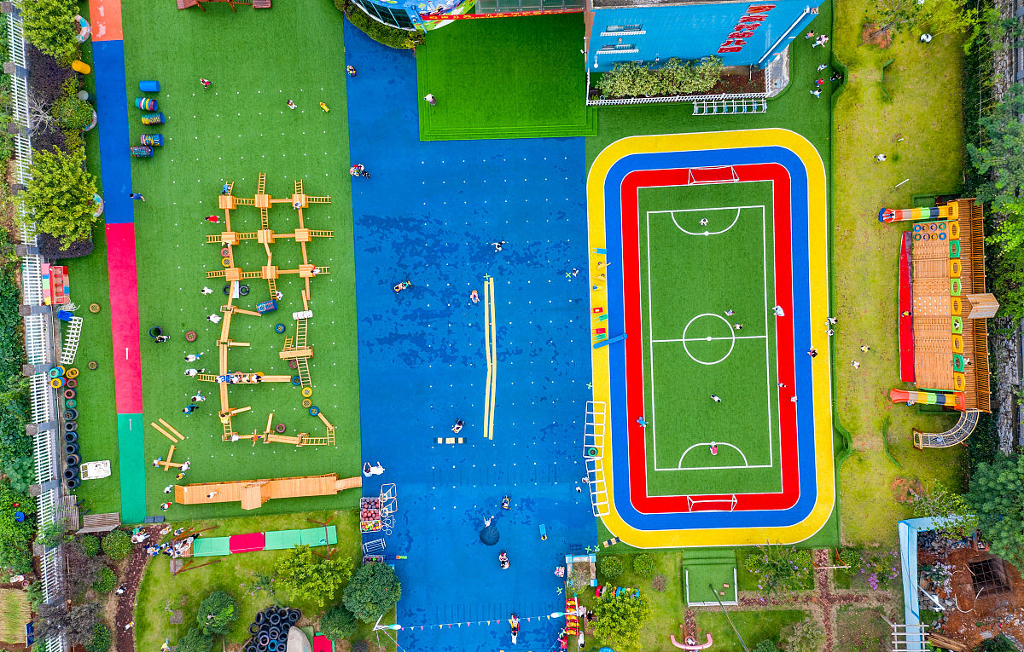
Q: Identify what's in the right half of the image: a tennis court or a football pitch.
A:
football pitch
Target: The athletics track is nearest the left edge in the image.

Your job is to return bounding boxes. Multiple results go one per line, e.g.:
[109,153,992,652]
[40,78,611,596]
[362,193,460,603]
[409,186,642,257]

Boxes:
[89,0,145,523]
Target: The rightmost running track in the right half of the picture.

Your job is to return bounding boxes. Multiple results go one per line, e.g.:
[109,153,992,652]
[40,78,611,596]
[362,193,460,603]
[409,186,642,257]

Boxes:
[586,127,835,550]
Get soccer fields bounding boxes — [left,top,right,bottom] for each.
[639,181,782,496]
